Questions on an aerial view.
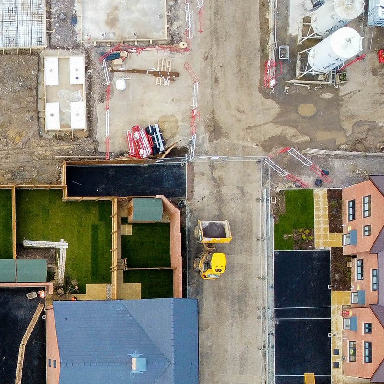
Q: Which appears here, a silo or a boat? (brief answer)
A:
silo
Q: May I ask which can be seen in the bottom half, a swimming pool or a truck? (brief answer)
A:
truck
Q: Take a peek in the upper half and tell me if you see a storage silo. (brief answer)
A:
Yes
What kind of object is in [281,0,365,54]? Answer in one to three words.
silo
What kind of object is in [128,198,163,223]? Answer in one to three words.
shed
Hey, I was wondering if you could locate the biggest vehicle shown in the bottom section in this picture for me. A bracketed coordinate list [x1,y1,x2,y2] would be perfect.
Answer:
[194,221,232,281]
